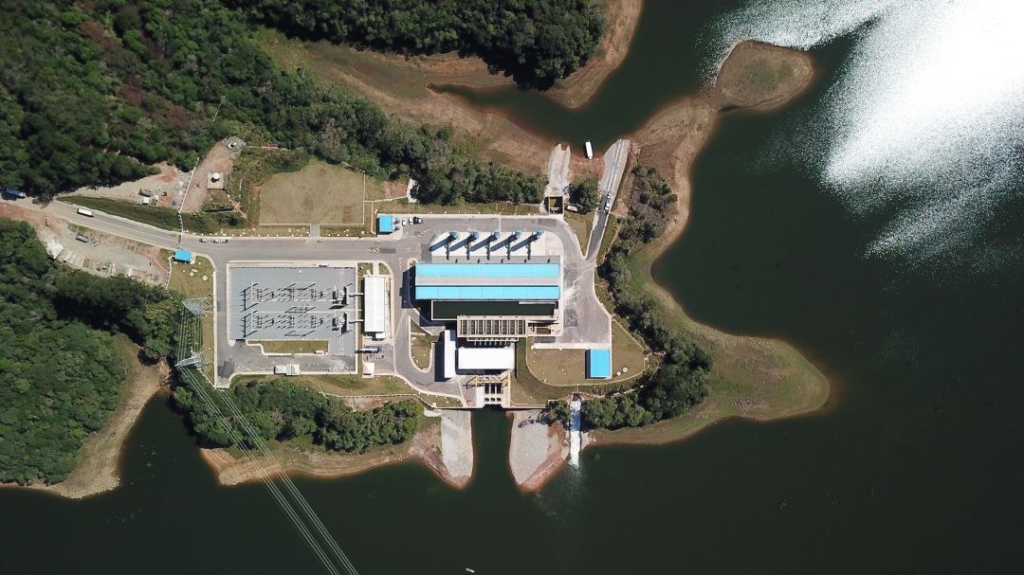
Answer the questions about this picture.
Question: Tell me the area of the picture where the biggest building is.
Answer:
center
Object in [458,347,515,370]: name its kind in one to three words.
building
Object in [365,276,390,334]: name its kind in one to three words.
building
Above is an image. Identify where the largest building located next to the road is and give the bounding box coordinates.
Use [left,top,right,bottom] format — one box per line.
[414,263,560,299]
